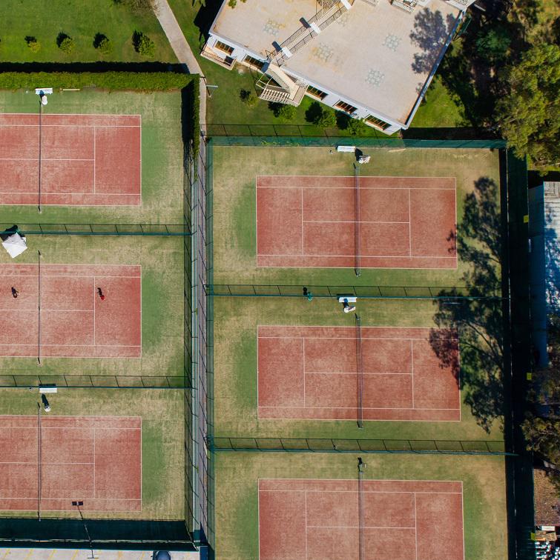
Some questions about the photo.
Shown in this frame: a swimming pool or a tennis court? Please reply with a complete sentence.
Of the two, only a tennis court appears.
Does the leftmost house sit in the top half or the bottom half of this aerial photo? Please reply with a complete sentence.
The leftmost house is in the top half of the image.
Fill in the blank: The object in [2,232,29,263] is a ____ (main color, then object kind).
white gazebo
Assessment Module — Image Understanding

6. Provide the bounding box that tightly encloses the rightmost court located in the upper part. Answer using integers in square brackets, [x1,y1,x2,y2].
[207,146,510,298]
